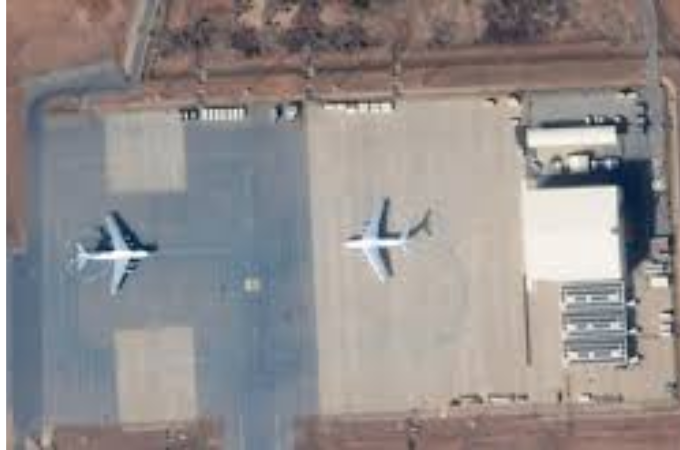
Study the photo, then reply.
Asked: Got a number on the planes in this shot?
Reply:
2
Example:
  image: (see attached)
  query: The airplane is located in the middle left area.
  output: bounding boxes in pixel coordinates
[75,215,149,295]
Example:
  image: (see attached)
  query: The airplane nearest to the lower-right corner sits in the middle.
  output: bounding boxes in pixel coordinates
[340,203,408,282]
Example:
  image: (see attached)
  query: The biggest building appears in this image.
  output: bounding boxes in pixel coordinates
[525,184,625,283]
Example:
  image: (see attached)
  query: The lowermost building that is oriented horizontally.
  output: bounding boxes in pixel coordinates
[562,336,640,364]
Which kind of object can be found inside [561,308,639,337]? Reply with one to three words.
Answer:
building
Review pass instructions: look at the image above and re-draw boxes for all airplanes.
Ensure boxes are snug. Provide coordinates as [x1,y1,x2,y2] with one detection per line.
[340,203,408,282]
[75,215,149,295]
